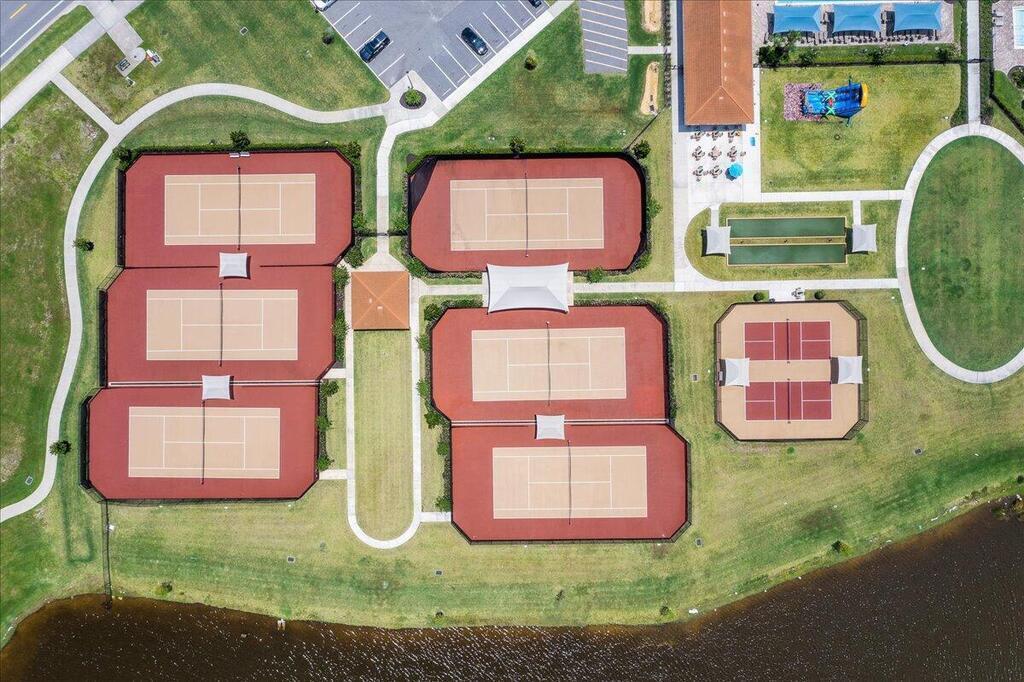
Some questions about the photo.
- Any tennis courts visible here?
Yes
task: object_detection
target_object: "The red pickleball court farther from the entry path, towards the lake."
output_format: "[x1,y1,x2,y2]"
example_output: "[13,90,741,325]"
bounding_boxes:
[746,378,832,423]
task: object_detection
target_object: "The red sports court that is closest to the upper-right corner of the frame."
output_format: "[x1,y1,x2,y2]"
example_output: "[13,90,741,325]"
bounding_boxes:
[745,318,831,363]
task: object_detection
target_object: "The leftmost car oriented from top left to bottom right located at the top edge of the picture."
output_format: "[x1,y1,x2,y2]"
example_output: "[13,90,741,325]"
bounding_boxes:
[460,27,488,57]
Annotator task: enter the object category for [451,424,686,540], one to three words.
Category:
tennis court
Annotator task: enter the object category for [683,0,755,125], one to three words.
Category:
building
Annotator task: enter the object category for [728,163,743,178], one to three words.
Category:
umbrella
